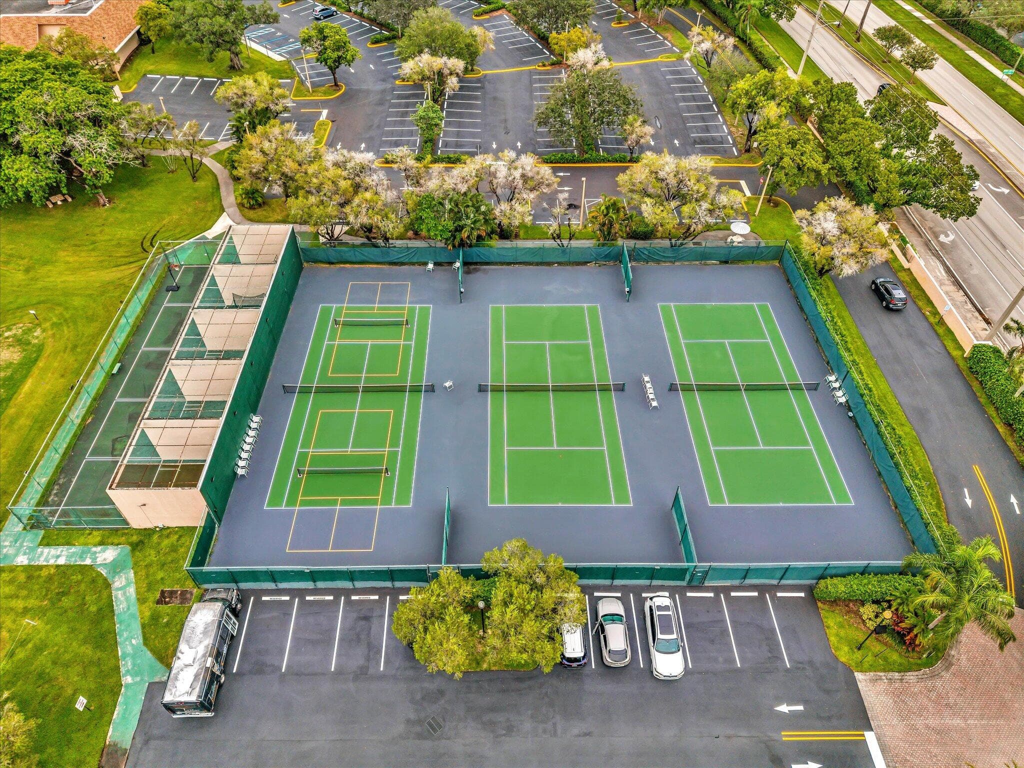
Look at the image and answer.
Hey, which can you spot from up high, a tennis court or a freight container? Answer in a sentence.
This aerial view contains a tennis court.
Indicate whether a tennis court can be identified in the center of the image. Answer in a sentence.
Yes, a tennis court appears in the center of the image.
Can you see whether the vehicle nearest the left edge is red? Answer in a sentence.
No, the vehicle nearest the left edge is actually white.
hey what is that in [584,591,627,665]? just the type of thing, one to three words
car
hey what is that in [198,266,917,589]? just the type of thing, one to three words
tennis court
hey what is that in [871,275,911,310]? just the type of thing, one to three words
car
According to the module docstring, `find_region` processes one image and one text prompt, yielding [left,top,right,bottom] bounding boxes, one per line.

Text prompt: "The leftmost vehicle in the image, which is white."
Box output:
[162,589,244,719]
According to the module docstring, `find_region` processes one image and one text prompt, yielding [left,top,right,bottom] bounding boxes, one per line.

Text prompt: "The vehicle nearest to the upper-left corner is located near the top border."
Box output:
[311,4,334,19]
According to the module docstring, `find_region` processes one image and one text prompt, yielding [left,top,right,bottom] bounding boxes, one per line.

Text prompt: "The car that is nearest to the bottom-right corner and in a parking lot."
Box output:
[642,597,688,680]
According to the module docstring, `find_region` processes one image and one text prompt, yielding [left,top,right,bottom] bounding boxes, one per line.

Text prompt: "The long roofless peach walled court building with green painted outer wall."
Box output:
[102,227,304,527]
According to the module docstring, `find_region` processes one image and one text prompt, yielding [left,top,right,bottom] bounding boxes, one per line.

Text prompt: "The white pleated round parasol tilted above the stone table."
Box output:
[729,219,751,236]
